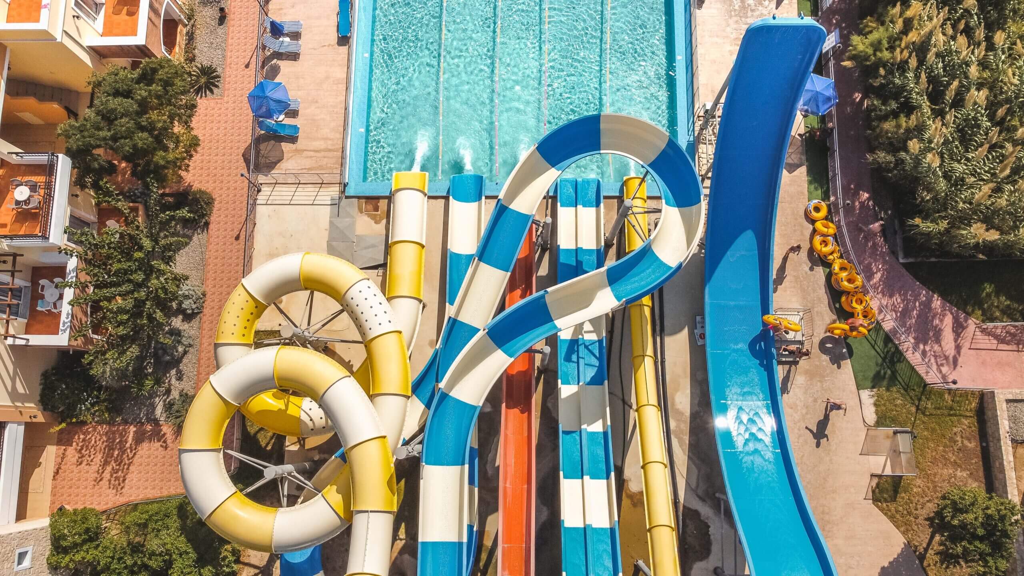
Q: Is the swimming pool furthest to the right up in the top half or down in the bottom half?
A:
top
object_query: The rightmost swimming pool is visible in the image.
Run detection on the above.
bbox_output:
[366,0,677,181]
